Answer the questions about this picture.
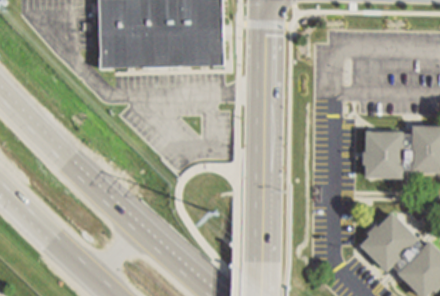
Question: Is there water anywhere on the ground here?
No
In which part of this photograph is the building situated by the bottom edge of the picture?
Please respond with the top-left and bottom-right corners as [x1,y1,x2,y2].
[362,212,440,296]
